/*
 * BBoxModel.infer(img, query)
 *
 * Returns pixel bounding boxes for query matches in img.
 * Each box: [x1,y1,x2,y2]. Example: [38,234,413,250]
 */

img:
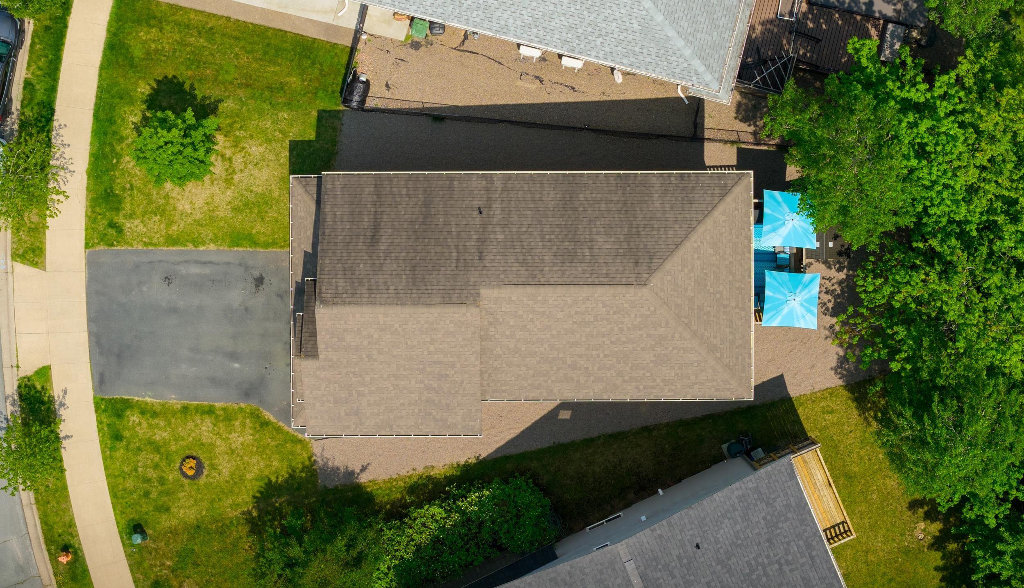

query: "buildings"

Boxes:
[455,452,853,588]
[335,0,756,105]
[290,171,754,437]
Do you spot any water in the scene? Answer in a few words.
No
